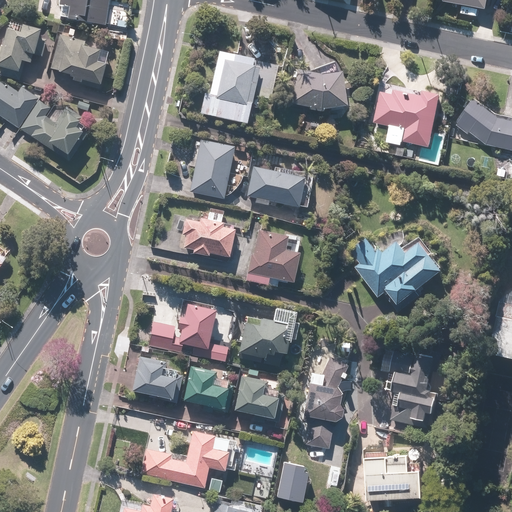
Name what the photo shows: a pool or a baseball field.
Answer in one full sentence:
Of the two, only a pool appears.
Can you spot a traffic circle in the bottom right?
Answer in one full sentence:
No, no traffic circle appears in the bottom right.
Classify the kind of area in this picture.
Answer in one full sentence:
This looks like a residential area.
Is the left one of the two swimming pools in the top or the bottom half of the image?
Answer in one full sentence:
Seen from above, the left one of the two swimming pools lies in the bottom half of the view.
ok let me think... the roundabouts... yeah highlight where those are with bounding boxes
[82,228,110,256]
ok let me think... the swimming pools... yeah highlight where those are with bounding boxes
[420,132,442,162]
[245,446,273,466]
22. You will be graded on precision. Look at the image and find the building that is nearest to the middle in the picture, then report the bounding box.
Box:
[246,228,302,287]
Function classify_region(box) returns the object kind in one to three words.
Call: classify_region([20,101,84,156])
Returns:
house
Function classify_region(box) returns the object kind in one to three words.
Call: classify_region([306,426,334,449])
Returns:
building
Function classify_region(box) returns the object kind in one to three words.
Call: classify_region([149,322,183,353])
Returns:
building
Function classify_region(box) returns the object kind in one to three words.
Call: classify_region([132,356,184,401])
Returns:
house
